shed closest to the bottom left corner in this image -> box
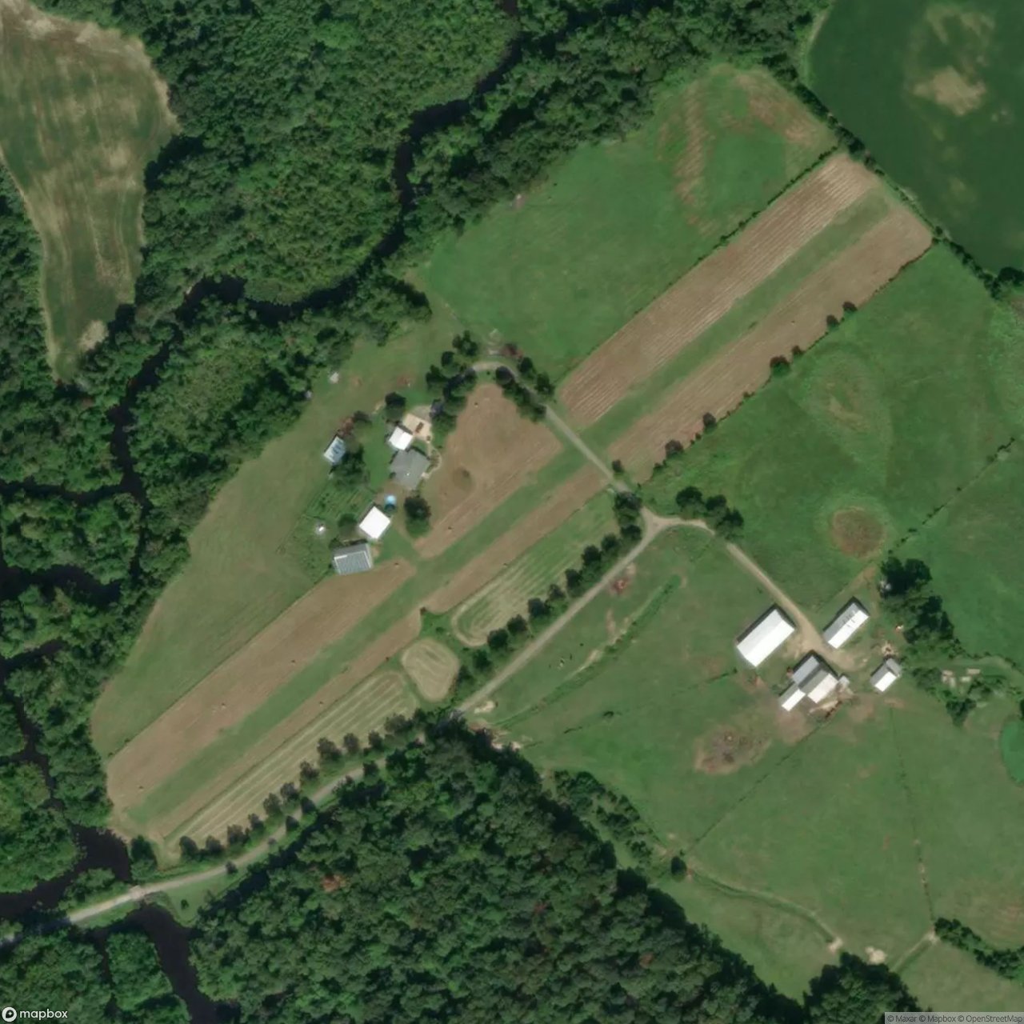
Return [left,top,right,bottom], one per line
[333,543,373,575]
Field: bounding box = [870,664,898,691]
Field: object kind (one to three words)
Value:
barn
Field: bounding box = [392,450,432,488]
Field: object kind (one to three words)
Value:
house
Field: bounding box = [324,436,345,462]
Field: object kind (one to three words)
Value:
shed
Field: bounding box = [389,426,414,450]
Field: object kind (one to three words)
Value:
building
